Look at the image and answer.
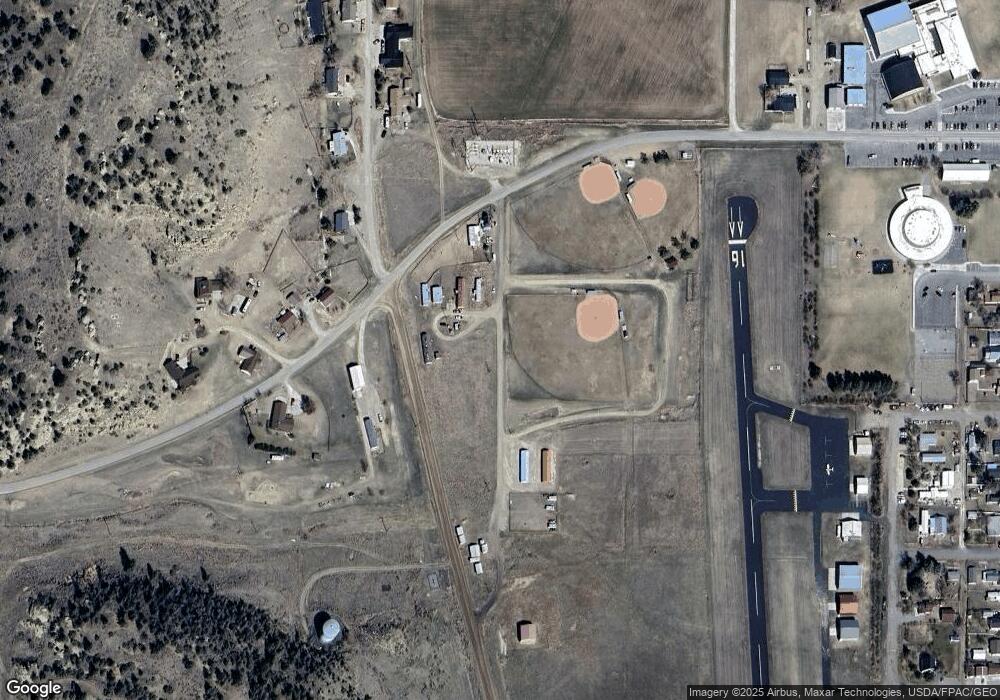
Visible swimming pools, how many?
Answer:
0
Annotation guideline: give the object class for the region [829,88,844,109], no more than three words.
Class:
building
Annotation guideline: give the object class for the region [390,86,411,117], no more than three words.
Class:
house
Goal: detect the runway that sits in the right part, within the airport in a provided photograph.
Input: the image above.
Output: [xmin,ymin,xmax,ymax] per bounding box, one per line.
[728,196,771,700]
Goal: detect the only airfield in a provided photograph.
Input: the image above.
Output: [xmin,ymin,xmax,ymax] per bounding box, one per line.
[728,196,869,700]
